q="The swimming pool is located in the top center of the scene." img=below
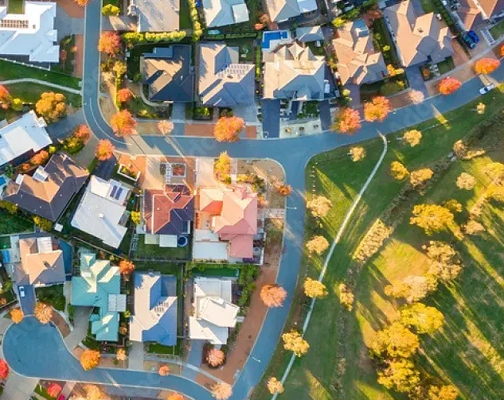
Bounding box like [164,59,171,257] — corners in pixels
[261,30,292,51]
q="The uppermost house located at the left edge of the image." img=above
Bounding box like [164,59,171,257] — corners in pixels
[0,1,59,62]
